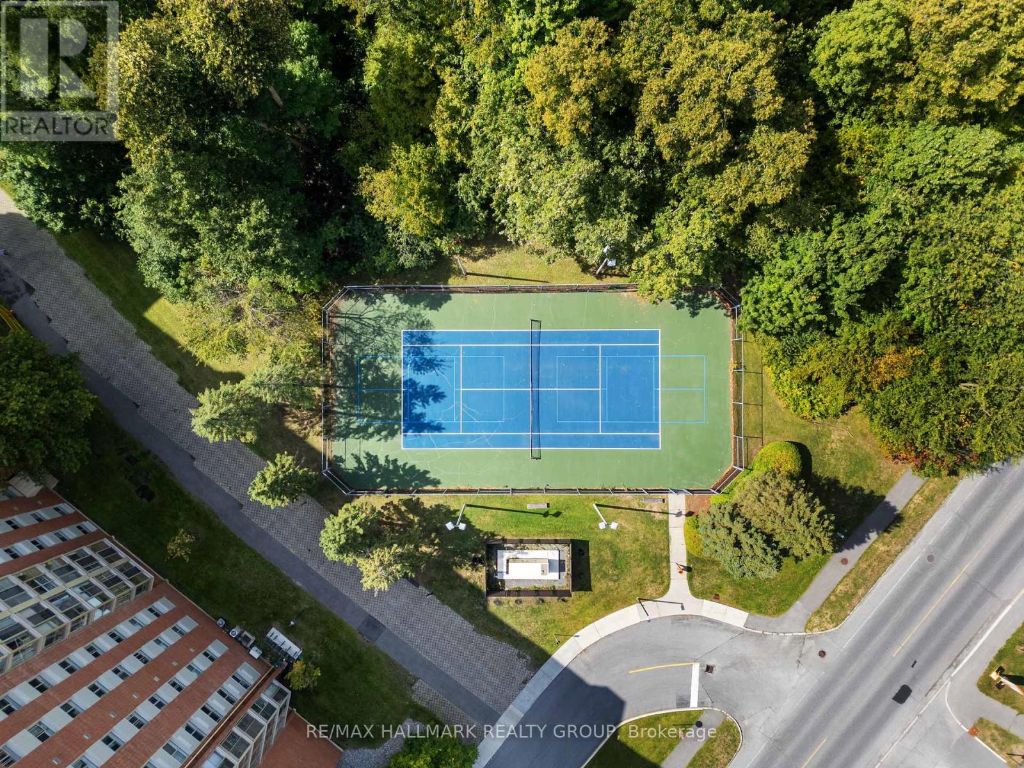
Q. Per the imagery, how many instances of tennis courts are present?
1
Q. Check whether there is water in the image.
No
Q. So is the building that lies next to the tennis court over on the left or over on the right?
left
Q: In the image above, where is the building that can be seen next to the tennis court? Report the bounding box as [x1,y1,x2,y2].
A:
[0,457,344,768]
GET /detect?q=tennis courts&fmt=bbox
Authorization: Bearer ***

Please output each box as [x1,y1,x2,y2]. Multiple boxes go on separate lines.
[328,287,737,493]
